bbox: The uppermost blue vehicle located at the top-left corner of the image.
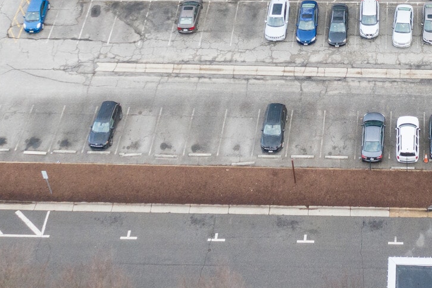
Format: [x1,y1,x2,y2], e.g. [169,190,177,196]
[20,0,52,35]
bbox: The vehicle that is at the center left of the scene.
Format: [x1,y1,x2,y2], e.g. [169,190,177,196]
[87,95,124,152]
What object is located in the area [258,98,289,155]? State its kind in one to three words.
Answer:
car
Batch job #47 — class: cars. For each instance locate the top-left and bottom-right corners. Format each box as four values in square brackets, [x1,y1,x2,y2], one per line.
[426,109,432,162]
[357,0,381,40]
[361,112,387,164]
[325,2,350,46]
[175,0,204,36]
[295,0,319,42]
[20,0,52,35]
[258,98,289,155]
[420,2,432,46]
[87,95,124,152]
[390,4,415,48]
[395,113,421,165]
[263,0,290,42]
